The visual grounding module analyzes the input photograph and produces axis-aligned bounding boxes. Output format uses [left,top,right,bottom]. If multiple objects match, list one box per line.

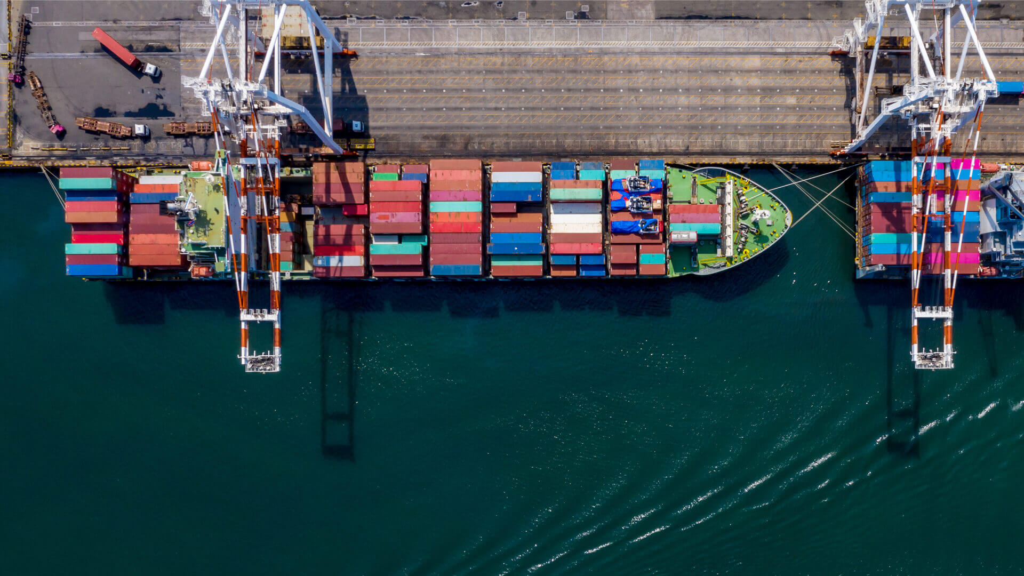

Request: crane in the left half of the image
[180,0,359,373]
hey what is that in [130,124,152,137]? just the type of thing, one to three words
vehicle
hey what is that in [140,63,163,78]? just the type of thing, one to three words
vehicle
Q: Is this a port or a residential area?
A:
port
